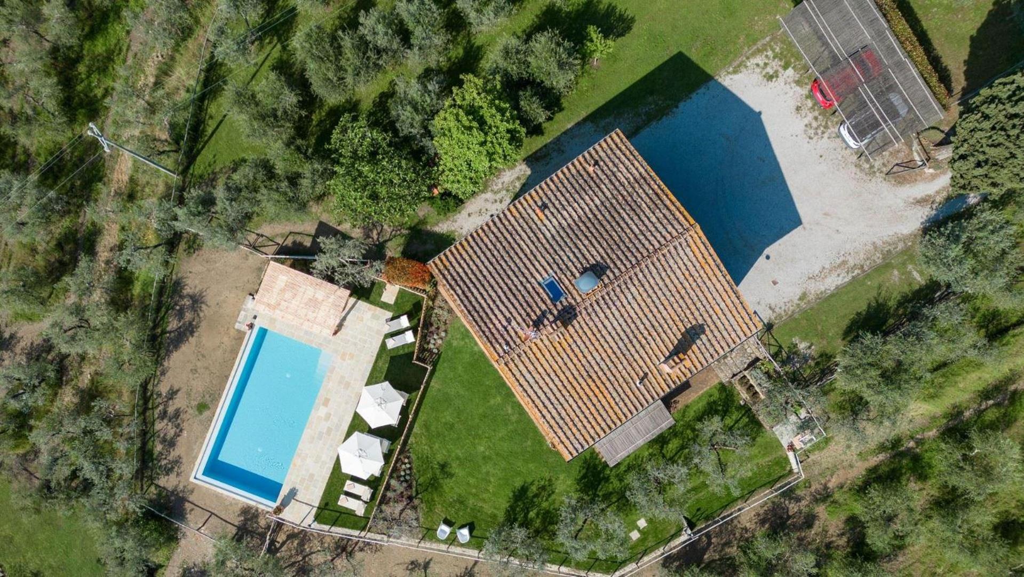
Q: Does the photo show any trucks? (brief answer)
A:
No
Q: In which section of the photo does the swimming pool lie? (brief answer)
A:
bottom left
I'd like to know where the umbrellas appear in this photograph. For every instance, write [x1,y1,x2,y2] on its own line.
[357,377,408,430]
[341,428,385,479]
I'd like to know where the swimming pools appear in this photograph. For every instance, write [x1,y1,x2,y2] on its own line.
[189,325,333,514]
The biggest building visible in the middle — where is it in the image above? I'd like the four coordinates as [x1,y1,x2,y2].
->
[427,128,764,463]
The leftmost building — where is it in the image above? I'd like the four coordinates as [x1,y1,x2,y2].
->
[252,261,361,336]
